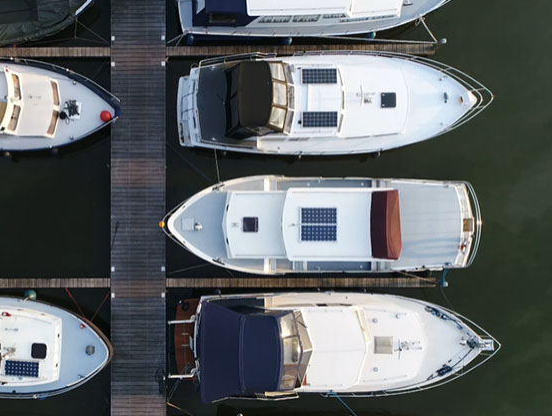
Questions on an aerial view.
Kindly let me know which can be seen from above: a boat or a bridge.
boat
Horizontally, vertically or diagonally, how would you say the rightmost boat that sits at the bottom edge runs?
horizontally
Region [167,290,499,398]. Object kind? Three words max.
boat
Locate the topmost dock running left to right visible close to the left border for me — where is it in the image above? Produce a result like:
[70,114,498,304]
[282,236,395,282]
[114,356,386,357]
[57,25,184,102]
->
[0,47,111,59]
